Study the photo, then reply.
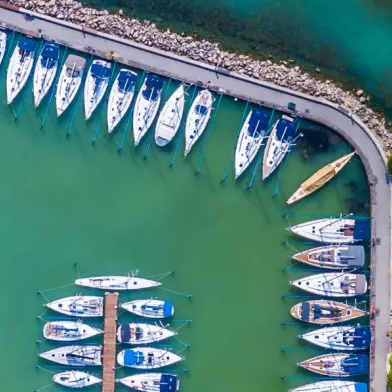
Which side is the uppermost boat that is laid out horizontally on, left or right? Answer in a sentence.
The uppermost boat that is laid out horizontally appears in the right half of the scene.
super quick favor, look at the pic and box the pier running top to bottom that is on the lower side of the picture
[102,292,118,392]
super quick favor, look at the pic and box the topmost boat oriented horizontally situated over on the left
[42,268,190,296]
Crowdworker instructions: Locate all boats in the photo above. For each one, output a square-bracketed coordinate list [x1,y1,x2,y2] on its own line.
[283,241,371,271]
[283,298,372,325]
[117,296,189,321]
[36,342,103,368]
[114,346,187,370]
[82,55,113,121]
[39,318,105,342]
[285,214,376,245]
[42,268,190,296]
[37,367,103,391]
[107,63,140,133]
[262,113,299,195]
[133,69,167,146]
[282,324,375,352]
[223,105,271,181]
[116,322,189,346]
[287,378,373,392]
[6,32,37,117]
[115,370,187,392]
[39,292,103,319]
[55,50,87,117]
[282,351,373,379]
[154,80,191,150]
[274,151,357,204]
[32,38,61,108]
[289,270,371,299]
[183,86,215,157]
